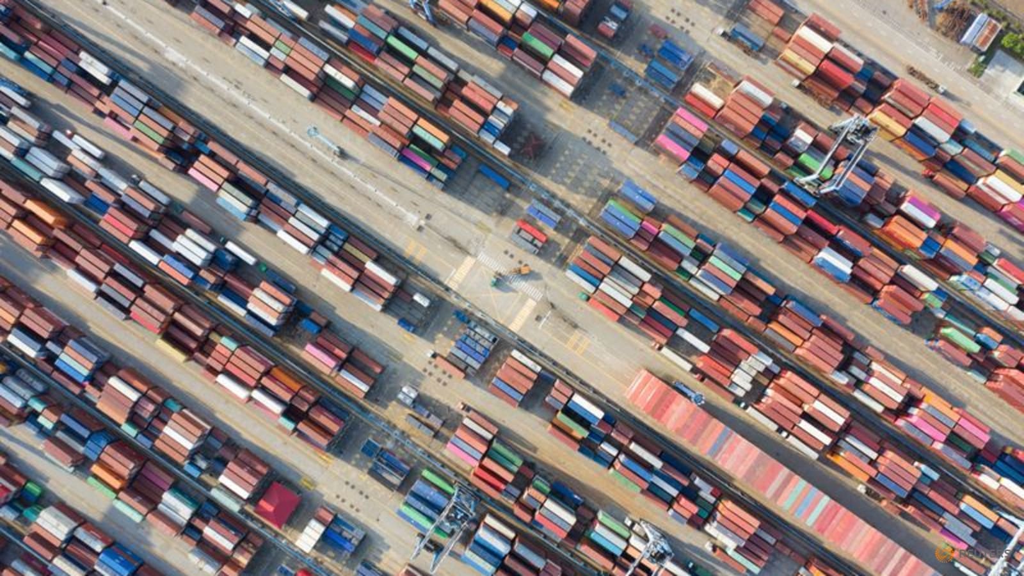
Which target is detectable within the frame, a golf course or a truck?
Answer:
truck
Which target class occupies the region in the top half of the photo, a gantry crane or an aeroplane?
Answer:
gantry crane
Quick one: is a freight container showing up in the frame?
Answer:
Yes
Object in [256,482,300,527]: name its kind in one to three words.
shed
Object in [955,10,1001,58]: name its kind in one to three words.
shed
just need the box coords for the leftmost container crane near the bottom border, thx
[400,487,475,576]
